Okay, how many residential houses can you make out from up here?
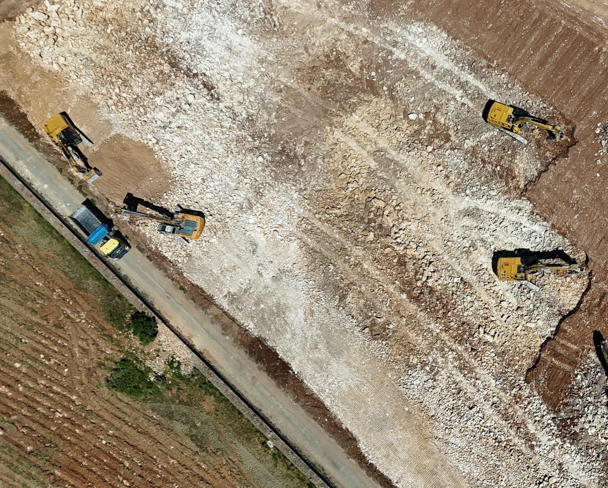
zero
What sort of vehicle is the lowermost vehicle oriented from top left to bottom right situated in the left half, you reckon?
truck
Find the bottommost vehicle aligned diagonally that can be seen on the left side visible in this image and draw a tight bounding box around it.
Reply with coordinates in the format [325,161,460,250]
[64,201,131,260]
